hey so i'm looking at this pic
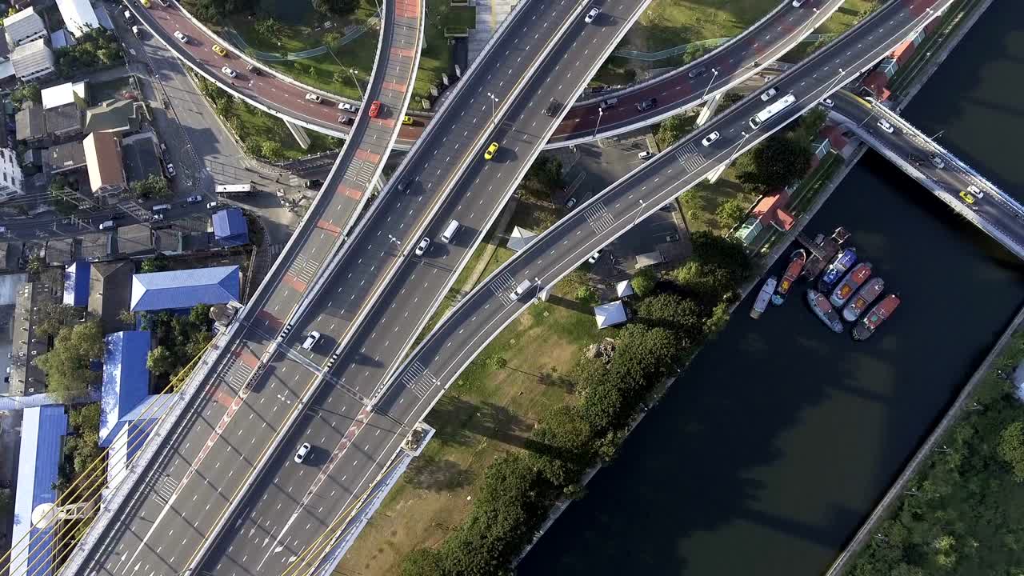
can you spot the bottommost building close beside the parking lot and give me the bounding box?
[594,300,626,330]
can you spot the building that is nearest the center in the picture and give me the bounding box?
[506,225,537,254]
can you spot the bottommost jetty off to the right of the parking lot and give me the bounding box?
[799,229,850,282]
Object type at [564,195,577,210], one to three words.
vehicle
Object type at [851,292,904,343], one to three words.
boat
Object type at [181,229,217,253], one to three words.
house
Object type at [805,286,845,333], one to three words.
boat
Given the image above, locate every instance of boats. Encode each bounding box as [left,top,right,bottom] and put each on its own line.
[829,260,875,308]
[750,274,777,320]
[772,247,804,306]
[817,245,857,293]
[851,292,904,343]
[841,274,888,324]
[805,286,845,333]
